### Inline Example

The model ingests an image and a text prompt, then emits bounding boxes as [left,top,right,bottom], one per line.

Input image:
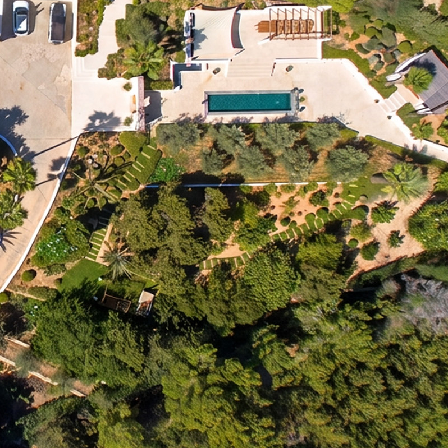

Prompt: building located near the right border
[395,49,448,113]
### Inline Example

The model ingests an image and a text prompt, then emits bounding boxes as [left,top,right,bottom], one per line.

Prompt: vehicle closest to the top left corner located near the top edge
[13,0,31,36]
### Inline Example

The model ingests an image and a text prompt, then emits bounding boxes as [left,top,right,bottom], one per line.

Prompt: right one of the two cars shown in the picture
[48,1,68,45]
